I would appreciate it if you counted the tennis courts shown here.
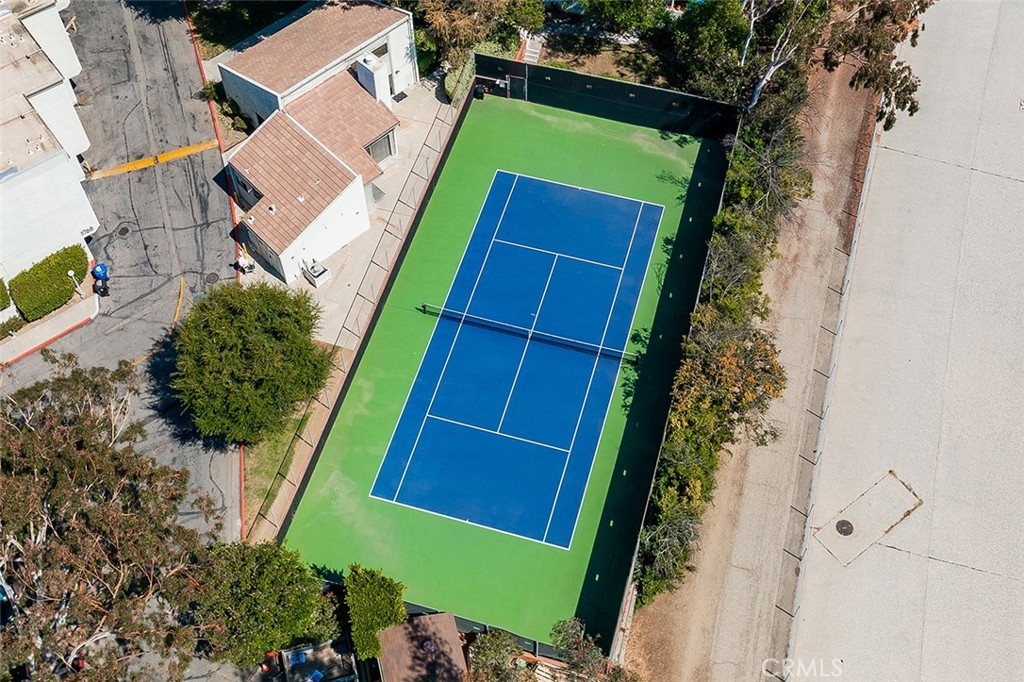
1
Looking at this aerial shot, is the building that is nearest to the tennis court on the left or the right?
left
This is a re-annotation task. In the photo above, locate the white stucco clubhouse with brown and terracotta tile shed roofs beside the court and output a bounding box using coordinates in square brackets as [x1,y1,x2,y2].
[218,0,421,283]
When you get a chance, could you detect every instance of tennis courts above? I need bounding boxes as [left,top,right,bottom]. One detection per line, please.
[275,94,735,659]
